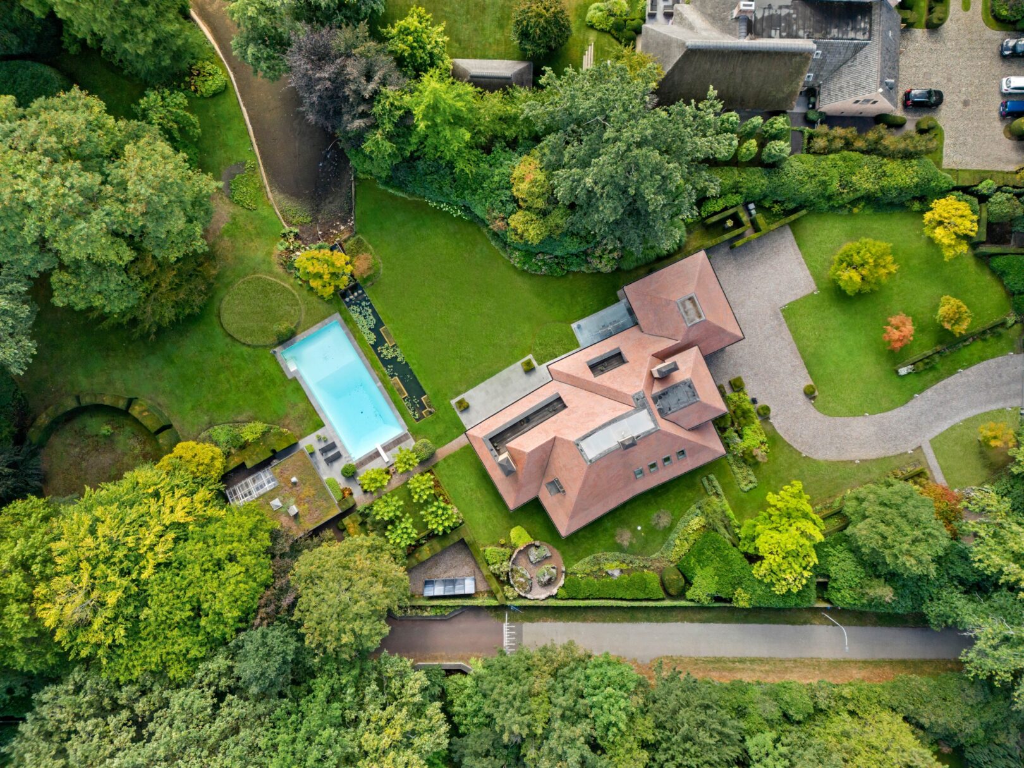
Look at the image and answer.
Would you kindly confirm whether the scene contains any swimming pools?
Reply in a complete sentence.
Yes, you can see a swimming pool in this photo.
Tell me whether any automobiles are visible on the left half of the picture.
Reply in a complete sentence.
No, there's no automobile to be seen on the left half of the picture.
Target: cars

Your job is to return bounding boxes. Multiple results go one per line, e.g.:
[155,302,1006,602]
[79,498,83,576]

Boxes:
[997,76,1024,96]
[997,37,1024,60]
[997,101,1024,120]
[901,86,944,109]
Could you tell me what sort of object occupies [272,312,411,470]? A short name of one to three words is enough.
swimming pool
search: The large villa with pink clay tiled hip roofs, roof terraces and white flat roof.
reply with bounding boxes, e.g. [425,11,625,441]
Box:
[464,249,746,539]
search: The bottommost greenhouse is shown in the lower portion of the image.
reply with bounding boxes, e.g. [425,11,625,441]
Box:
[423,574,475,596]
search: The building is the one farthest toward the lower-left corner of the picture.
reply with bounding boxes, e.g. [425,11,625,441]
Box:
[226,447,344,543]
